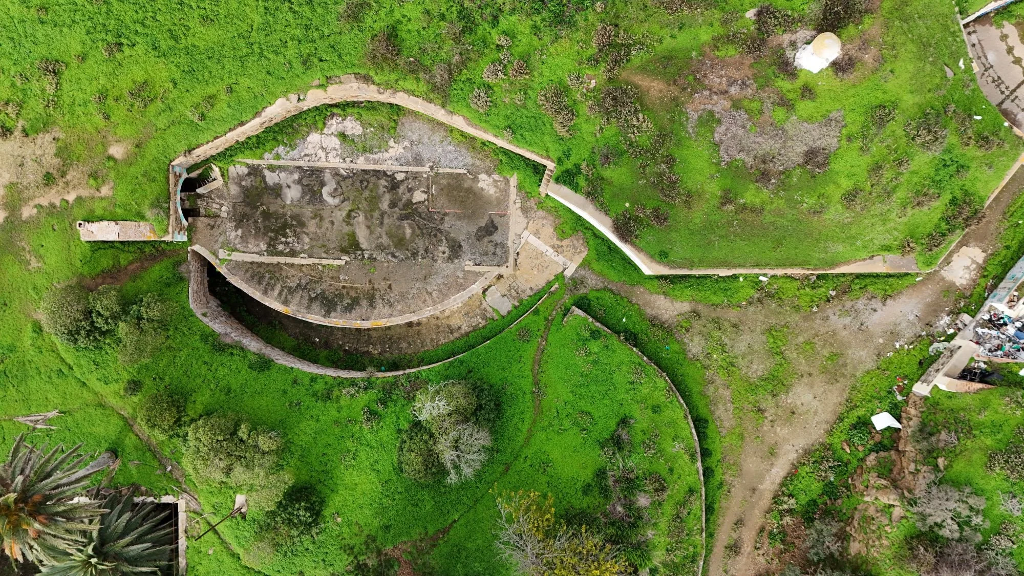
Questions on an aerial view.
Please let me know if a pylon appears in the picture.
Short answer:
No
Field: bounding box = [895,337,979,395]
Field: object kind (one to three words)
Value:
shed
